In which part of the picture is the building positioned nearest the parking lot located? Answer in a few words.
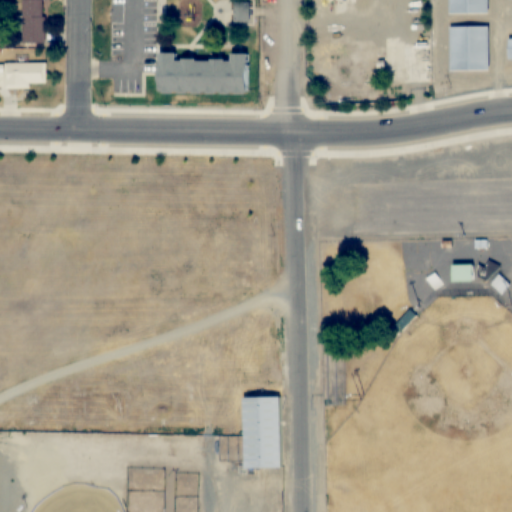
top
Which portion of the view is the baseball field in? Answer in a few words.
bottom right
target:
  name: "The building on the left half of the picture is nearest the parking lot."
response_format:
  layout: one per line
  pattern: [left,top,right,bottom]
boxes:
[156,52,252,95]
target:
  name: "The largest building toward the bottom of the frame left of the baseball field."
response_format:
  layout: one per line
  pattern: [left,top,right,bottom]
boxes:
[243,396,282,468]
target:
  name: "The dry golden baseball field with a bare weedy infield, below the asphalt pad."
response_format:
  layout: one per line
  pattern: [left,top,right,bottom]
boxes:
[318,239,512,512]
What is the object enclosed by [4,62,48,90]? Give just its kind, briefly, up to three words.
house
